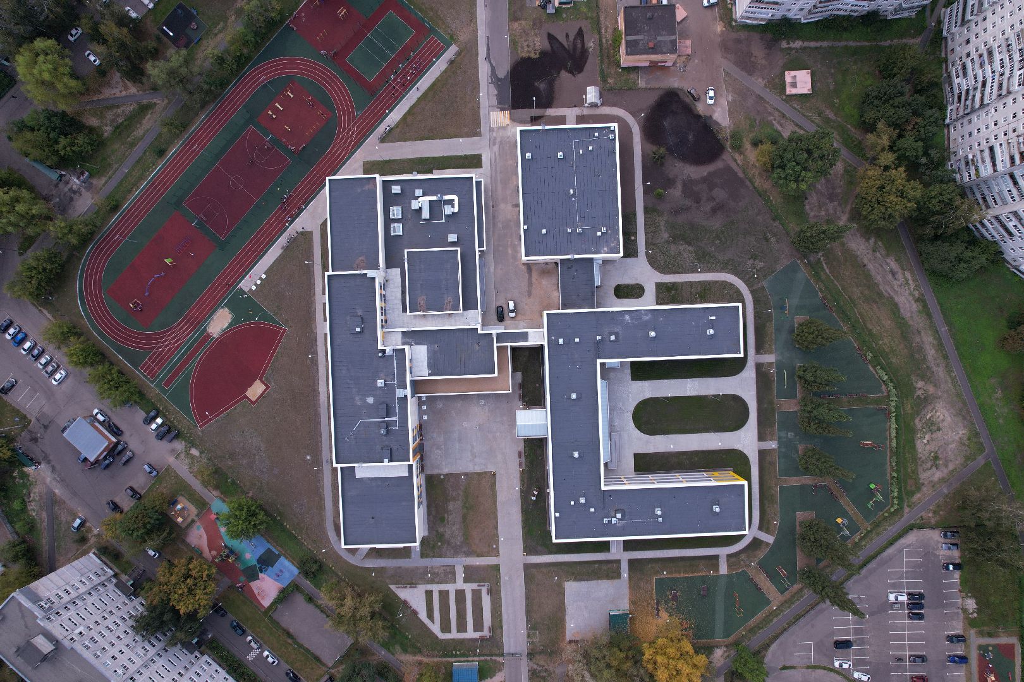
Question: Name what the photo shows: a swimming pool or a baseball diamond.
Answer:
baseball diamond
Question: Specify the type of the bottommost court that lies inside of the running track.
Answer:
basketball court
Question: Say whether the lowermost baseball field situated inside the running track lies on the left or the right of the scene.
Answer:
left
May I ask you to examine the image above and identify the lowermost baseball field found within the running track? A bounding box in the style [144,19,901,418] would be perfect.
[190,321,286,427]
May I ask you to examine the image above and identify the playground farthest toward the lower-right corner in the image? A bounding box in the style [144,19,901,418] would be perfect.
[978,643,1016,682]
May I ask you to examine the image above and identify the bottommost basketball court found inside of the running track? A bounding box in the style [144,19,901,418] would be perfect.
[183,125,291,239]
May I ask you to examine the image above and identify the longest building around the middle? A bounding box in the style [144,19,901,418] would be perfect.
[325,172,511,548]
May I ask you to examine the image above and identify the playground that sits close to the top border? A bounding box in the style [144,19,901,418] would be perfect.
[158,2,208,49]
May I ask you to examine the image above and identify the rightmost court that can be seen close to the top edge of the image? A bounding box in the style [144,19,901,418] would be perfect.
[333,0,432,95]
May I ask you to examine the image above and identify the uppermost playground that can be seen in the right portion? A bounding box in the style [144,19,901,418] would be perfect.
[764,260,885,399]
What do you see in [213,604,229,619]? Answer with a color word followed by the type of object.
black car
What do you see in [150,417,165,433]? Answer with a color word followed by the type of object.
white car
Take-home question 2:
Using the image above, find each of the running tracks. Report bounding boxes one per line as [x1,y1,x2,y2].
[77,0,453,429]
